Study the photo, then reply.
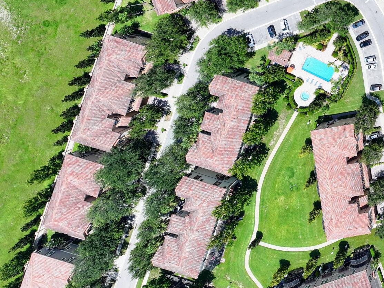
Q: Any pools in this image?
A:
Yes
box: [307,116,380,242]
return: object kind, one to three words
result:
building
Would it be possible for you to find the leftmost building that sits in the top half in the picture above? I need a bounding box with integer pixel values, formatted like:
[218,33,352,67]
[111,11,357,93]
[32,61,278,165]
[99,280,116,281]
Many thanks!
[71,33,162,153]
